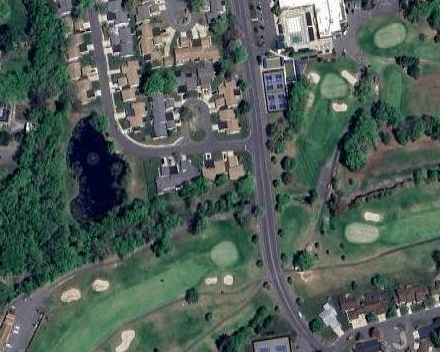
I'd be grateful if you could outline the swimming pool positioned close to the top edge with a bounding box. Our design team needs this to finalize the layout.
[284,16,307,48]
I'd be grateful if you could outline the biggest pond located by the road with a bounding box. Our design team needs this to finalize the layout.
[67,114,130,225]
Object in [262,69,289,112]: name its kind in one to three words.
sports court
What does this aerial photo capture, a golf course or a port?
golf course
